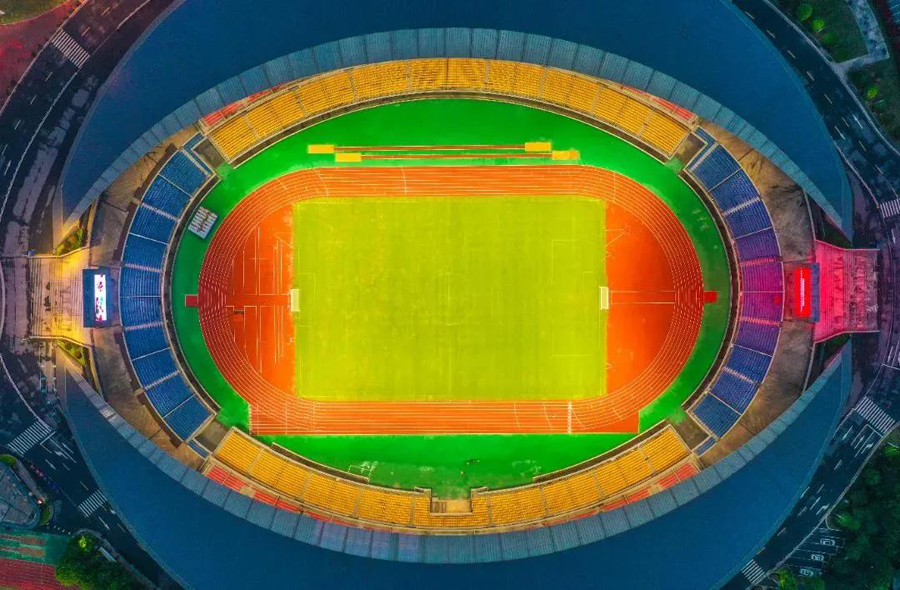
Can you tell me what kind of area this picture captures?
sports ground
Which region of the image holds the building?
bottom left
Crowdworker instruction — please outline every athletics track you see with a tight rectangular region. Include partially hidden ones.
[186,166,716,434]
